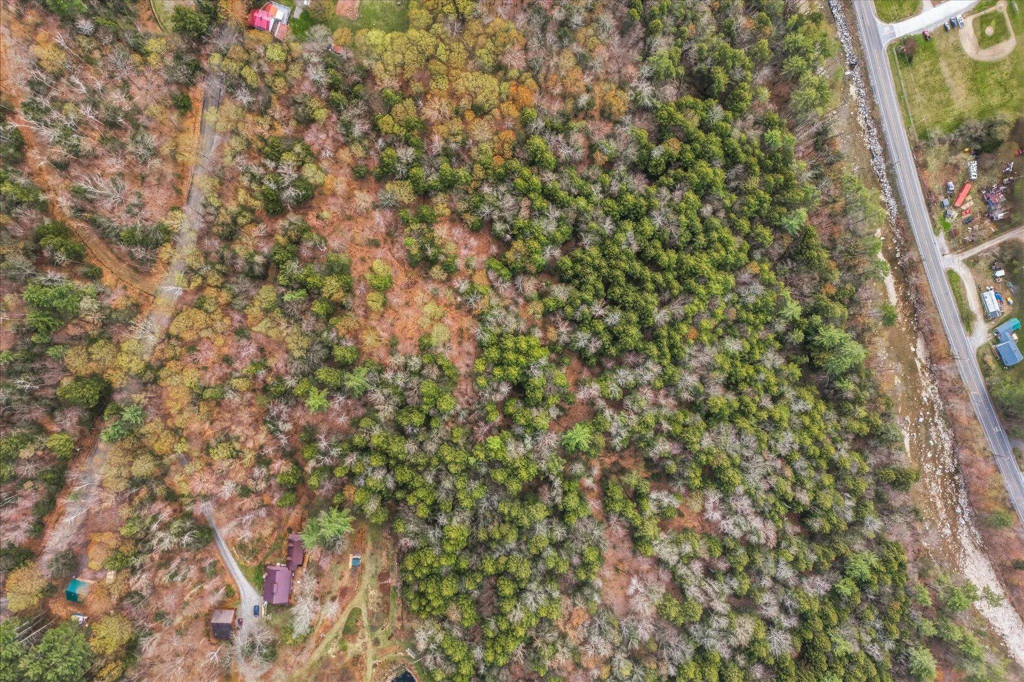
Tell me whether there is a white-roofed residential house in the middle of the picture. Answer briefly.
No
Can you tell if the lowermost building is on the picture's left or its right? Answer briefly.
left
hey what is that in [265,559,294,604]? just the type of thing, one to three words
house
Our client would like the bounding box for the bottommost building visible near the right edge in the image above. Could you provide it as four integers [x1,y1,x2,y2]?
[992,316,1023,366]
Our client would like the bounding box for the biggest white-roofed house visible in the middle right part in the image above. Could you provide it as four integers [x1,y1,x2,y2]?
[977,289,1001,319]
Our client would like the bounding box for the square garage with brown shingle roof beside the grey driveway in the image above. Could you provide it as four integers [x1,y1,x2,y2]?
[209,607,235,638]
